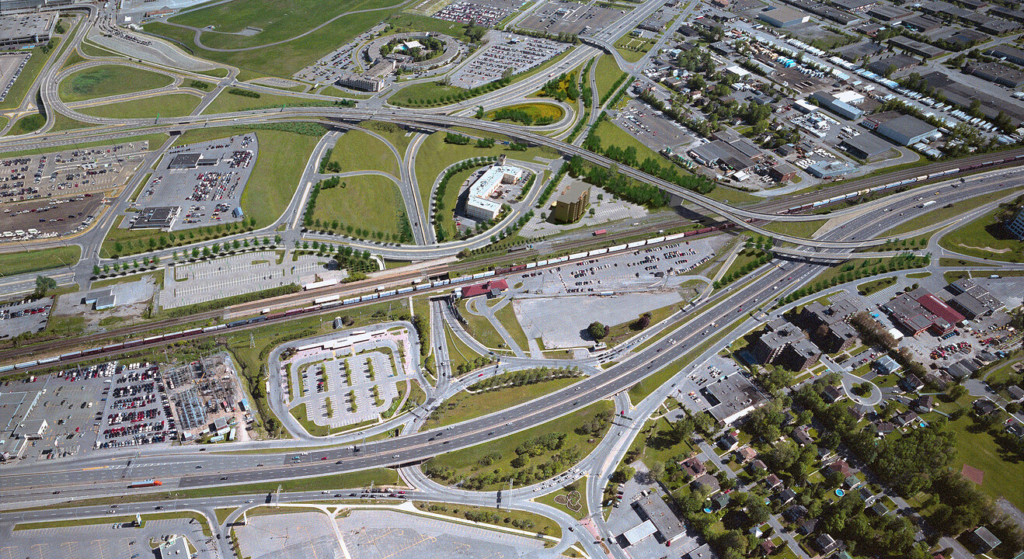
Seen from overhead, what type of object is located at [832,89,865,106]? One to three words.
building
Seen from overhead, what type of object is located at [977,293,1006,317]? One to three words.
building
